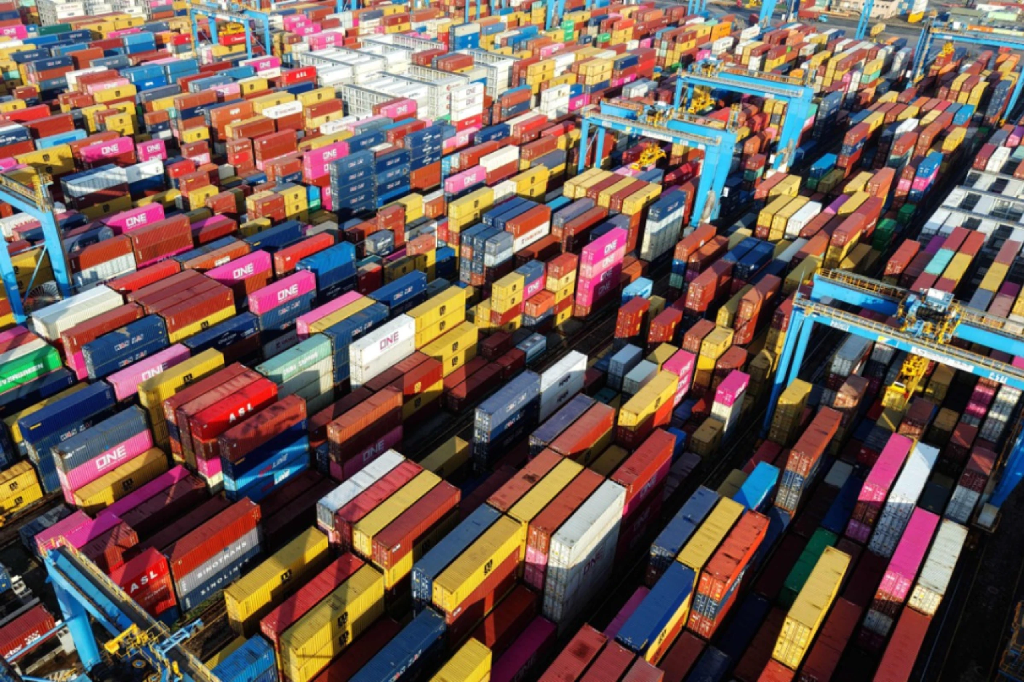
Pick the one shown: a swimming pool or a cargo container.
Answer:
cargo container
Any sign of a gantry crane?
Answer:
Yes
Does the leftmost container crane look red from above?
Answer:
No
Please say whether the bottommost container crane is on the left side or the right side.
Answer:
left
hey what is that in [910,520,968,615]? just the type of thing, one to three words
shipping container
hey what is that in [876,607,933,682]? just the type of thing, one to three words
shipping container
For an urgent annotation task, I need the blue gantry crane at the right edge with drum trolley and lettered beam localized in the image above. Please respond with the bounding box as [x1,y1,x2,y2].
[754,272,1024,538]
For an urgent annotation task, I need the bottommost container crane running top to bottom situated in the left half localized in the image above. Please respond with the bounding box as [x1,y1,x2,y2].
[0,169,73,329]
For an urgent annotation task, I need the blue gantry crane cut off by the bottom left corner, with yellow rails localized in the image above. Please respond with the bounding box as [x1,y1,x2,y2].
[0,529,296,682]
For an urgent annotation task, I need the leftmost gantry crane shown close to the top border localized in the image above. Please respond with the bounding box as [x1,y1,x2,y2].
[186,0,282,101]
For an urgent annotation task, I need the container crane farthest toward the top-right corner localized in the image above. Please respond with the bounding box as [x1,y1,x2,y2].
[906,15,1024,120]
